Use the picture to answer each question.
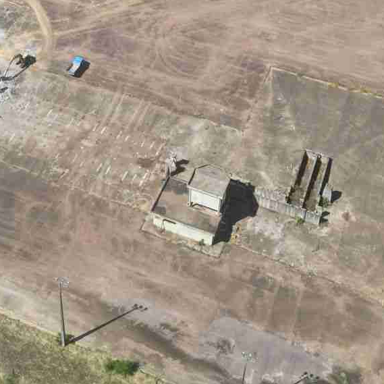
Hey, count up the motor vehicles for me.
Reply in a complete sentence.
The number of motor vehicles here is 2.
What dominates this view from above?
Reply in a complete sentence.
For the most part, this view shows paved ground.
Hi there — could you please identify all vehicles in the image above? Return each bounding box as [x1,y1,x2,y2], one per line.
[3,49,40,76]
[65,52,89,77]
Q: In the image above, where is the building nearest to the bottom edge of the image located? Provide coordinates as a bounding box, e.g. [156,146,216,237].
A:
[151,164,231,244]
